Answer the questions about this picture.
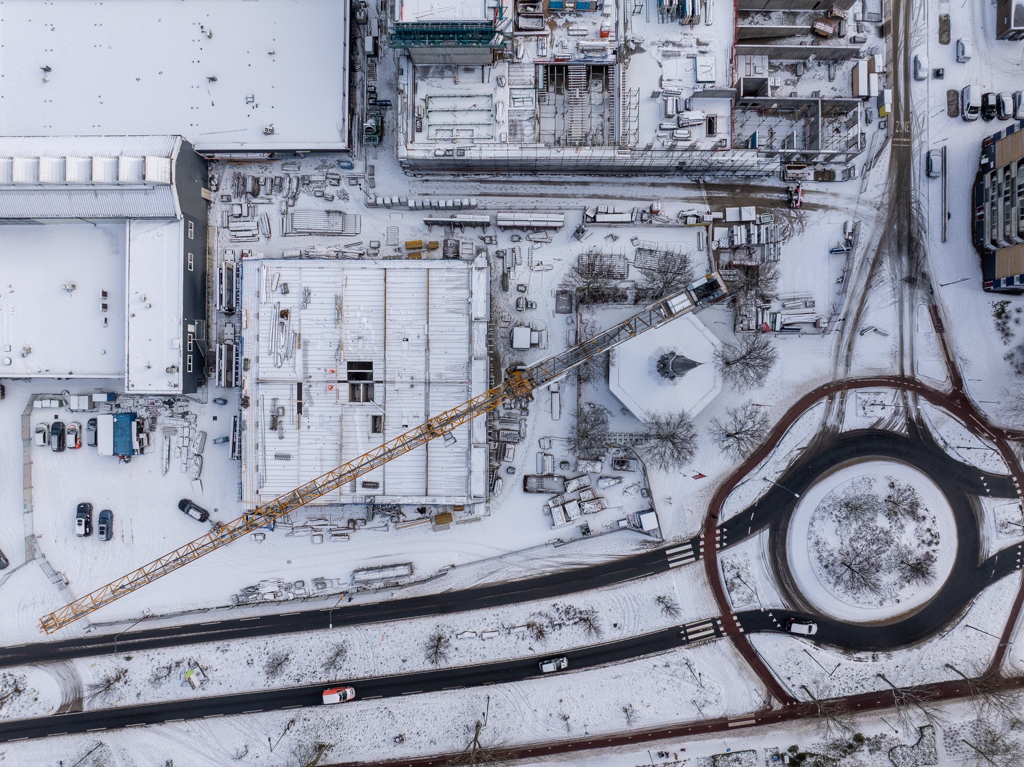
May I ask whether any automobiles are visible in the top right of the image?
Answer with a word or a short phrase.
Yes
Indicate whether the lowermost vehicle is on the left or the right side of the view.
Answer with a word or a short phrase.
left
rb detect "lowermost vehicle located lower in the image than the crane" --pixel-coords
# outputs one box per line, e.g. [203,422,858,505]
[320,684,356,706]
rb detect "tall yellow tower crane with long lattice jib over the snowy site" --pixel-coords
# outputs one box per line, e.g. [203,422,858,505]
[33,266,742,633]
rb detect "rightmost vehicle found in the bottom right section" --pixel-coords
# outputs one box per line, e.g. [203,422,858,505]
[783,617,816,635]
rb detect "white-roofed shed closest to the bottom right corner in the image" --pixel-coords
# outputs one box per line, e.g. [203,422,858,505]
[637,508,659,532]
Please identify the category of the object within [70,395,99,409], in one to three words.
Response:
shed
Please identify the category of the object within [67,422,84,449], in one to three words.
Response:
car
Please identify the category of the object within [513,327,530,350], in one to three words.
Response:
shed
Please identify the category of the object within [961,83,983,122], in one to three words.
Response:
vehicle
